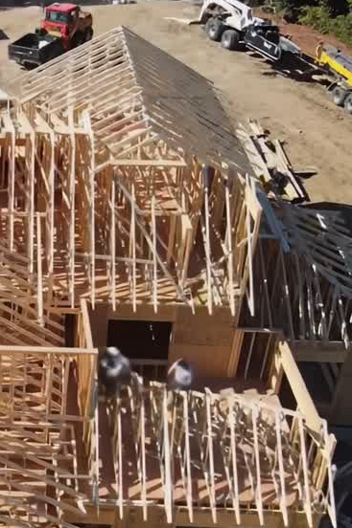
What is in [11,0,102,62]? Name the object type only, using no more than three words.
truck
